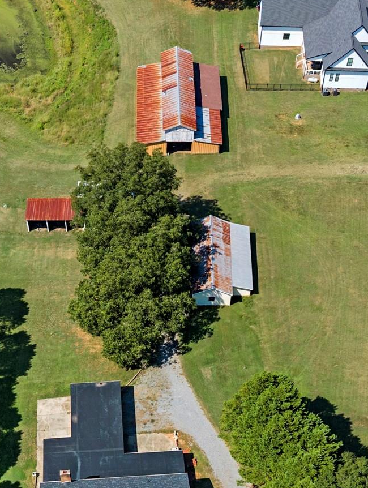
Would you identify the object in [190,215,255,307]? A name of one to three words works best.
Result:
shed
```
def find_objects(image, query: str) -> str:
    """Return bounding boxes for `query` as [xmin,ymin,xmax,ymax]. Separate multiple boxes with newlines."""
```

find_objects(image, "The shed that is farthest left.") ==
[25,197,84,231]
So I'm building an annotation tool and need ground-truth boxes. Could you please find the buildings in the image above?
[25,197,84,231]
[37,380,190,488]
[190,215,255,307]
[136,46,223,155]
[257,0,368,89]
